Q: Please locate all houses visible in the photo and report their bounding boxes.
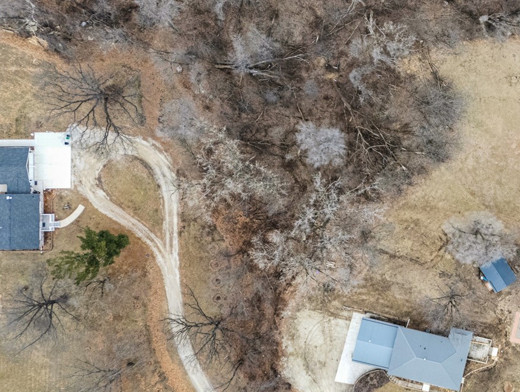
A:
[351,317,473,392]
[0,147,44,249]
